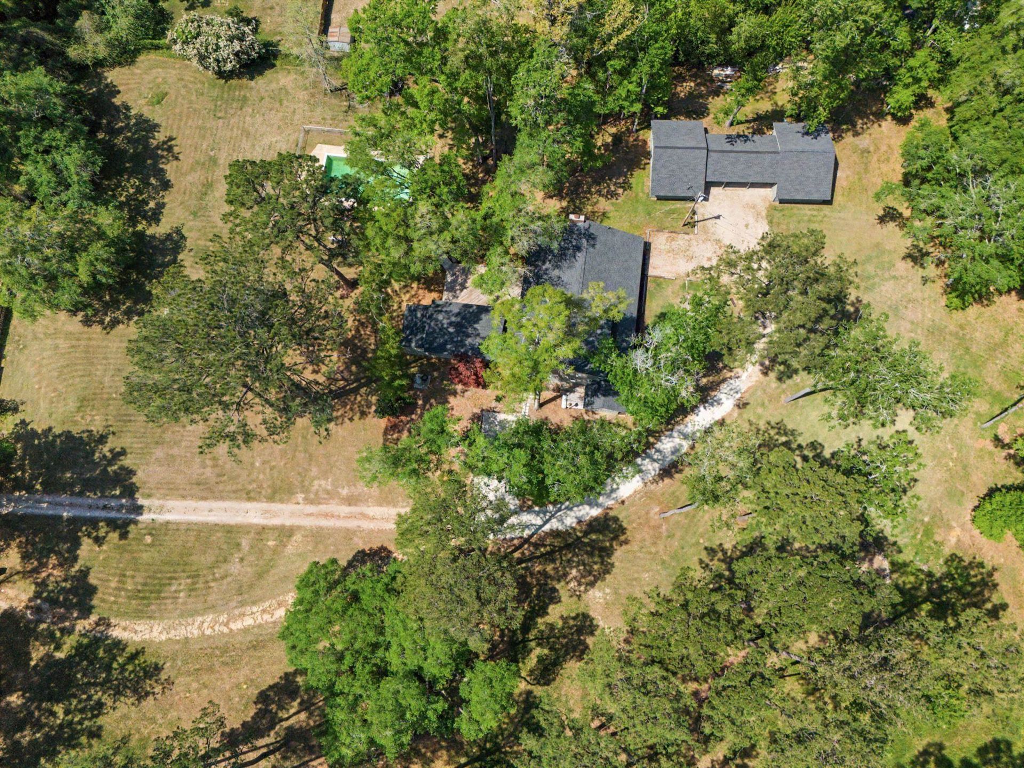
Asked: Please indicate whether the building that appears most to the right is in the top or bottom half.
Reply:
top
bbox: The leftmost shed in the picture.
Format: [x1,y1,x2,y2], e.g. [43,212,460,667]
[327,24,354,52]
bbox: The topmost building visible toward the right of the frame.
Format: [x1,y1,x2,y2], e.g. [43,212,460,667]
[648,120,836,206]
